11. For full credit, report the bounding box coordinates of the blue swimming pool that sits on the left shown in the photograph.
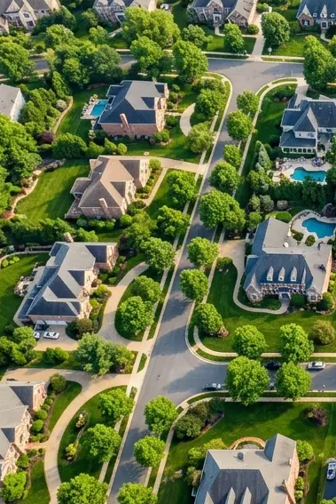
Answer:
[88,99,108,118]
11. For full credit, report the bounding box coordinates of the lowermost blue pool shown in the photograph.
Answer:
[301,216,336,240]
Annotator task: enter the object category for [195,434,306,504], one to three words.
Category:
house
